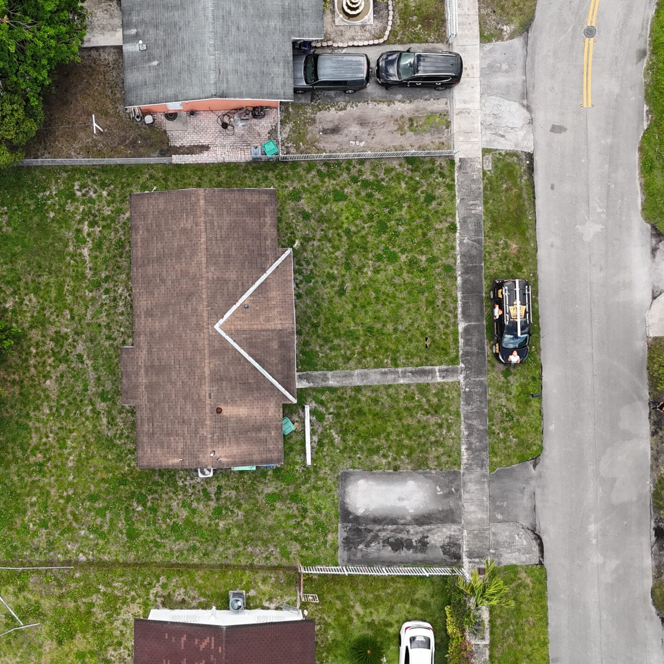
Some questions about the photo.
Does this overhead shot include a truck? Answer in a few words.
No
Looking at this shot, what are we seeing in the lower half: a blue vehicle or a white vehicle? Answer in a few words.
white vehicle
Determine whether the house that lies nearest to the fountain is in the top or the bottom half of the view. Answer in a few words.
top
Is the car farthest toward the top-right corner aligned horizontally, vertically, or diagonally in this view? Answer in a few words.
horizontally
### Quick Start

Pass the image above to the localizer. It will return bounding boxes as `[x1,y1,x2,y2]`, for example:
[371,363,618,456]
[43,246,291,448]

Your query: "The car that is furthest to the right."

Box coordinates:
[493,280,539,363]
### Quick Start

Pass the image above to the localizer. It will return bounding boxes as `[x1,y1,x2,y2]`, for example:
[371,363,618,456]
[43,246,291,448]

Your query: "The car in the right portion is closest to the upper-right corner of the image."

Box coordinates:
[375,46,462,91]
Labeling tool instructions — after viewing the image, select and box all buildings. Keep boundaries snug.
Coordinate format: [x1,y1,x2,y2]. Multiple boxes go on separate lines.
[120,187,297,469]
[122,0,324,114]
[133,611,315,664]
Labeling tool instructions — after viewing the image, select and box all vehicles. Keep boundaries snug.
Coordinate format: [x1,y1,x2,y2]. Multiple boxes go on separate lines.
[375,46,462,91]
[493,280,539,363]
[293,49,370,91]
[402,625,436,664]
